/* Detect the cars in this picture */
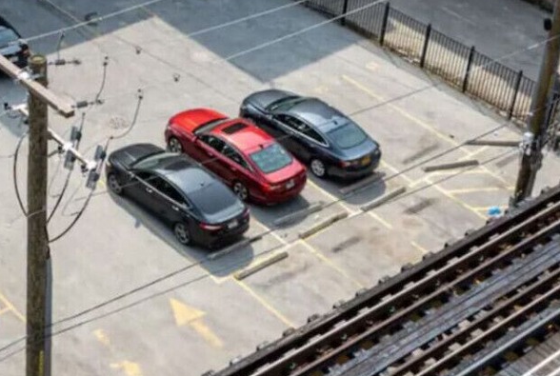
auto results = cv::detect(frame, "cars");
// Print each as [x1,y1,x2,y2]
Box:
[164,105,311,209]
[107,143,254,256]
[0,12,35,76]
[238,83,387,184]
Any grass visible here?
No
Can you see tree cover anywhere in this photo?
No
